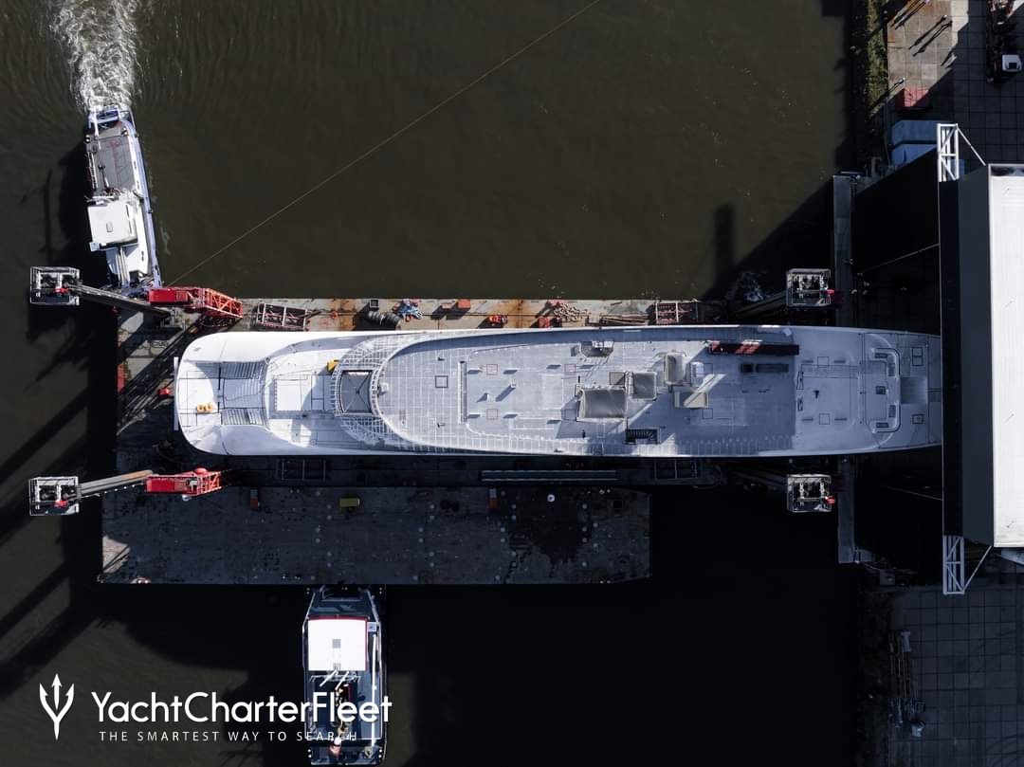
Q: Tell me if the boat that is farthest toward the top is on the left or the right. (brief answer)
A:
left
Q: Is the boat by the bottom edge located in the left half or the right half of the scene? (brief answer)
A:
left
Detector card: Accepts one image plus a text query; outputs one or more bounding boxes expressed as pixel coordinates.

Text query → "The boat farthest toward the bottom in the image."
[303,585,386,766]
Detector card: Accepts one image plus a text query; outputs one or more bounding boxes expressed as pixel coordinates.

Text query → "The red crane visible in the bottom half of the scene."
[143,466,220,500]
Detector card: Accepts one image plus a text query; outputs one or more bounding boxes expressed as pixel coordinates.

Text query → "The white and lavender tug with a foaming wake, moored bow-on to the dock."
[86,108,168,291]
